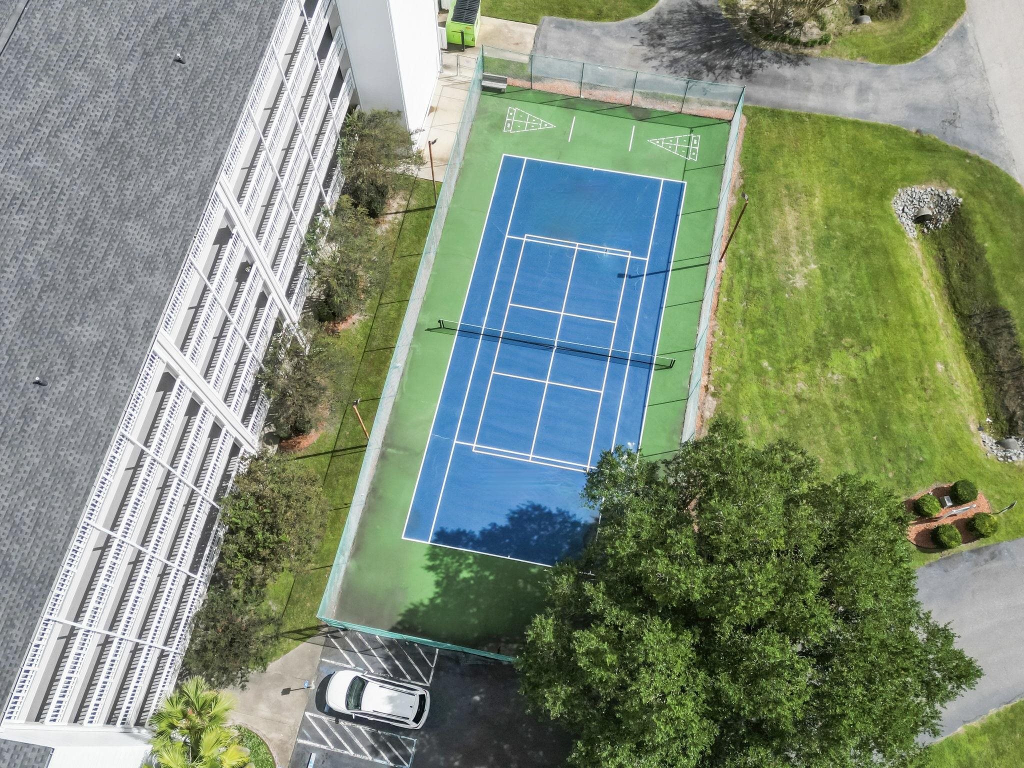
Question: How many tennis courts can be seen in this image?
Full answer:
In total, 1 tennis court can be seen.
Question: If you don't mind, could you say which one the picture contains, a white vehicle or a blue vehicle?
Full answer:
The one in the frame is a white vehicle.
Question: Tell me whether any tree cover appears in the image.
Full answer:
Yes, the picture does contain tree cover.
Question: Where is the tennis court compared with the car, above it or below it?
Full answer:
Looking at the scene, the tennis court is located above the car.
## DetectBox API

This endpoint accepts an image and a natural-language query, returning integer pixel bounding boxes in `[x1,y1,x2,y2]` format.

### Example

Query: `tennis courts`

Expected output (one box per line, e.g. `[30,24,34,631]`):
[333,85,732,672]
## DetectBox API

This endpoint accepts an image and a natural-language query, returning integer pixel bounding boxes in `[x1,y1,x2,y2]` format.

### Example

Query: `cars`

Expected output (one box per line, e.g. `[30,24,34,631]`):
[324,670,430,730]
